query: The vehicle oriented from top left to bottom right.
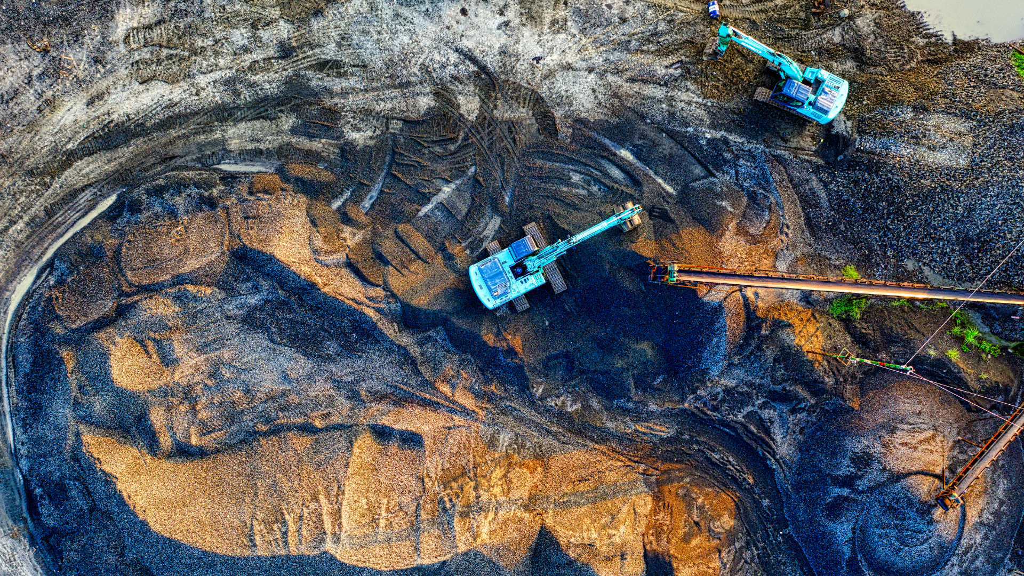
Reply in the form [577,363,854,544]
[699,11,853,137]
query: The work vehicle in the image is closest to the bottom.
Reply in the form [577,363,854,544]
[472,200,647,314]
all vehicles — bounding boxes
[699,11,853,137]
[472,200,647,314]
